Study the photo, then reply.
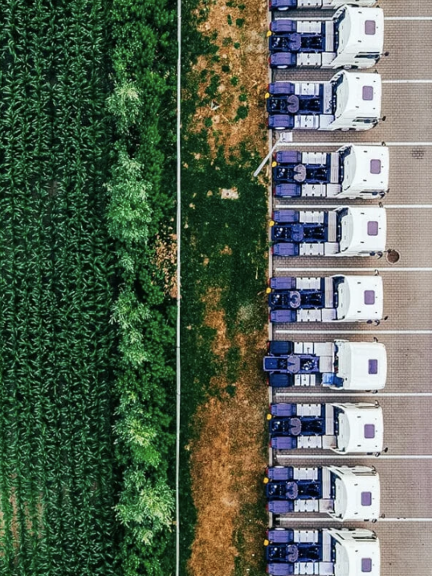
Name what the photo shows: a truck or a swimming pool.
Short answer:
truck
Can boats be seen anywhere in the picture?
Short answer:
No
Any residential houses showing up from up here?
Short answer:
No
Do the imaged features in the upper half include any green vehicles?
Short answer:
No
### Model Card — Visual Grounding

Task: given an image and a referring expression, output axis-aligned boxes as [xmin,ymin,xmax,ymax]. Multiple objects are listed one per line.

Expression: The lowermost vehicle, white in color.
[262,525,379,576]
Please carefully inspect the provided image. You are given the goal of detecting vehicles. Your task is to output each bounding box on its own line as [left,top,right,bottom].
[262,525,379,576]
[264,335,385,394]
[268,0,380,16]
[268,200,393,261]
[265,398,390,458]
[262,463,387,524]
[270,140,395,200]
[265,5,390,71]
[265,268,390,327]
[264,69,388,131]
